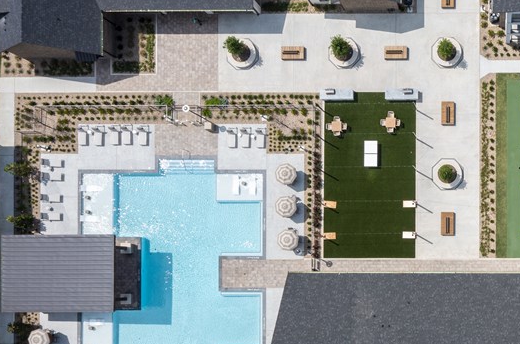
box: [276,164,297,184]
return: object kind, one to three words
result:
umbrella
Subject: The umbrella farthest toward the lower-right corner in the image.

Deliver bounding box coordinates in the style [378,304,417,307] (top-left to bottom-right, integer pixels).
[277,230,299,250]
